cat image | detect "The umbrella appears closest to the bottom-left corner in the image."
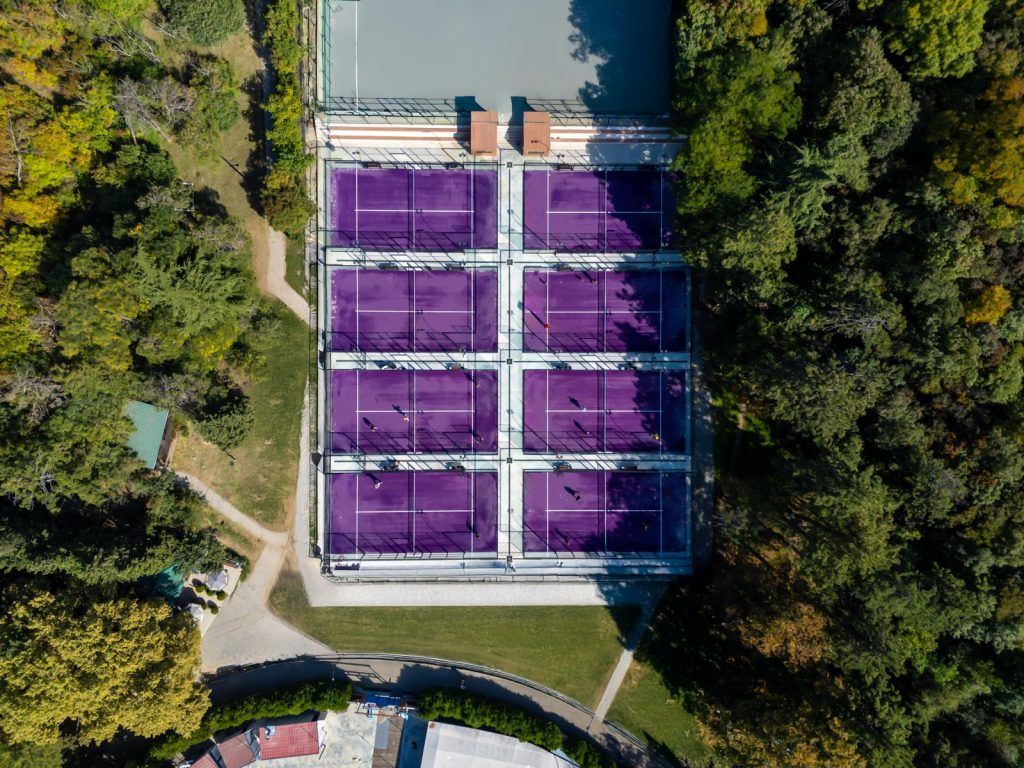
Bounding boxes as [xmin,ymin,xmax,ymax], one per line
[190,602,208,618]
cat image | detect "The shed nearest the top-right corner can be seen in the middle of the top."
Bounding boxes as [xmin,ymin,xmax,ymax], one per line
[523,111,551,158]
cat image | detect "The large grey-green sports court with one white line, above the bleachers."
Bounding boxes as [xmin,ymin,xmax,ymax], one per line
[331,0,674,118]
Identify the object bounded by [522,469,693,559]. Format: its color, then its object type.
purple sports court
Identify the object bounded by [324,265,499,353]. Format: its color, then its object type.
purple sports court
